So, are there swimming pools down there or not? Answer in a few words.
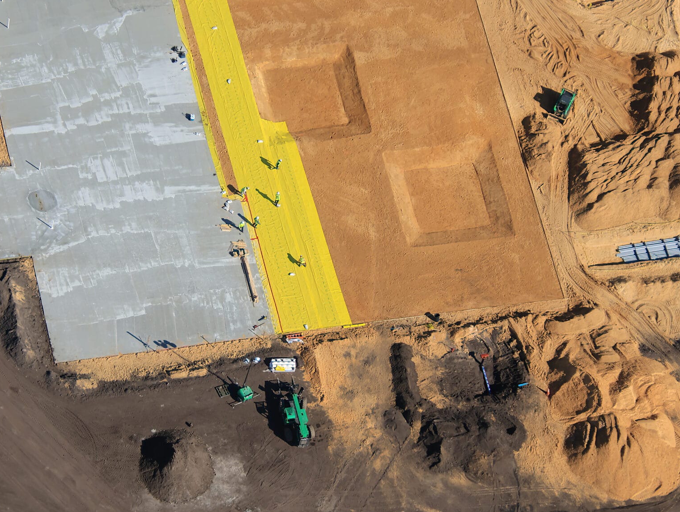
No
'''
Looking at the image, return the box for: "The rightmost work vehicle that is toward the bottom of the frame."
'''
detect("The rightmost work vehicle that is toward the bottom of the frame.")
[273,377,318,452]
